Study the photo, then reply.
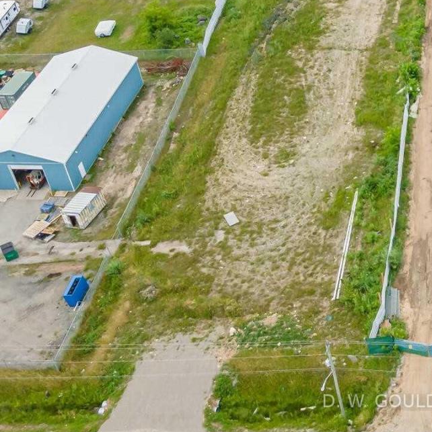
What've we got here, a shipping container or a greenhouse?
shipping container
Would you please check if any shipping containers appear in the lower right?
No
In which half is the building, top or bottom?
top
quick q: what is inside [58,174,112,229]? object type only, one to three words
shipping container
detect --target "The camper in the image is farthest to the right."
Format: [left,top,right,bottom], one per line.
[90,21,116,40]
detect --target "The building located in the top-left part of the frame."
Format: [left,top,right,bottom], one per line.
[0,43,140,192]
